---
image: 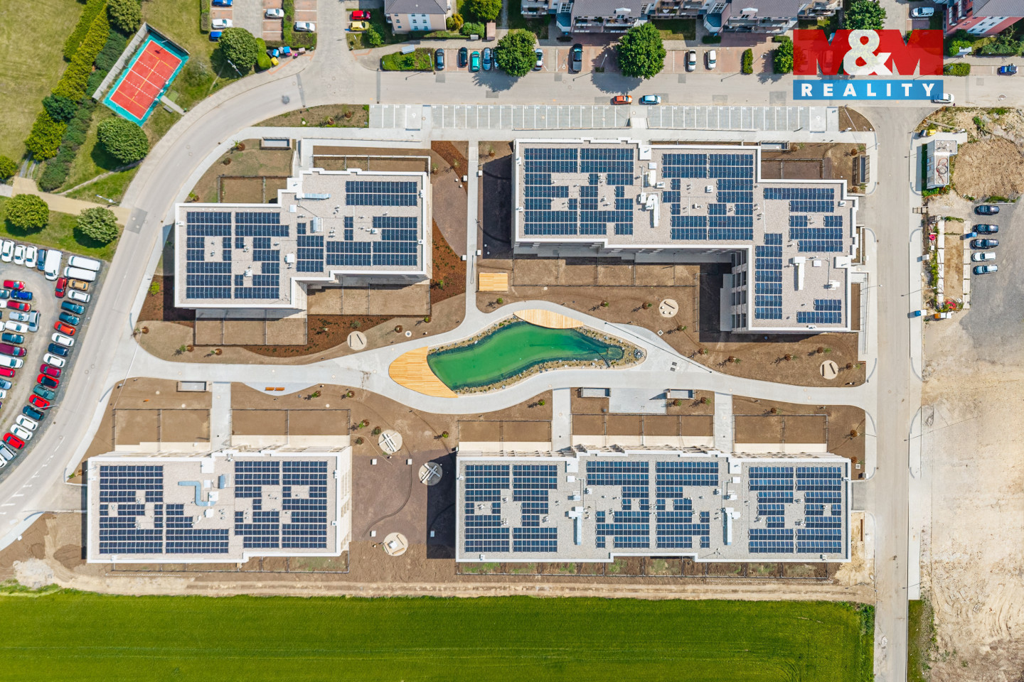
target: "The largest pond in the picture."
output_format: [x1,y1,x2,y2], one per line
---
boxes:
[428,314,647,398]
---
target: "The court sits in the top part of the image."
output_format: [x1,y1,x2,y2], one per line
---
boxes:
[91,23,189,125]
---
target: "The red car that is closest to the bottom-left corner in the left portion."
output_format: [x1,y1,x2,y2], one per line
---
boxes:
[3,432,26,450]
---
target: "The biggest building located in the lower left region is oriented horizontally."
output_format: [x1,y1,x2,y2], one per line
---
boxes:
[87,443,353,563]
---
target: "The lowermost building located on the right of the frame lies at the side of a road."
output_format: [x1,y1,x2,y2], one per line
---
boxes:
[456,442,851,562]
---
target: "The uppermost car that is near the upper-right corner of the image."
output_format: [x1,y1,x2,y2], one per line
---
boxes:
[910,6,934,18]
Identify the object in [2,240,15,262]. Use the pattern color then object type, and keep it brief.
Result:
white vehicle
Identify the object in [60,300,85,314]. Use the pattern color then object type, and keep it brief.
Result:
blue car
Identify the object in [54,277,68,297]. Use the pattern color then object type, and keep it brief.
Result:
red car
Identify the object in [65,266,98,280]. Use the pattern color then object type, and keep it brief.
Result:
white vehicle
